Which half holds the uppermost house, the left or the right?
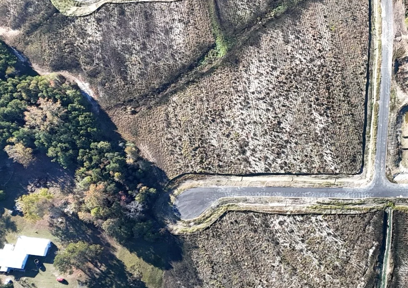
left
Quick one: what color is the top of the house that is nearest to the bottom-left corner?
white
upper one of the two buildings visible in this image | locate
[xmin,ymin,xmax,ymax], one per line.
[14,236,53,258]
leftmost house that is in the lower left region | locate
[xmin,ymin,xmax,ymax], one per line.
[0,244,32,275]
